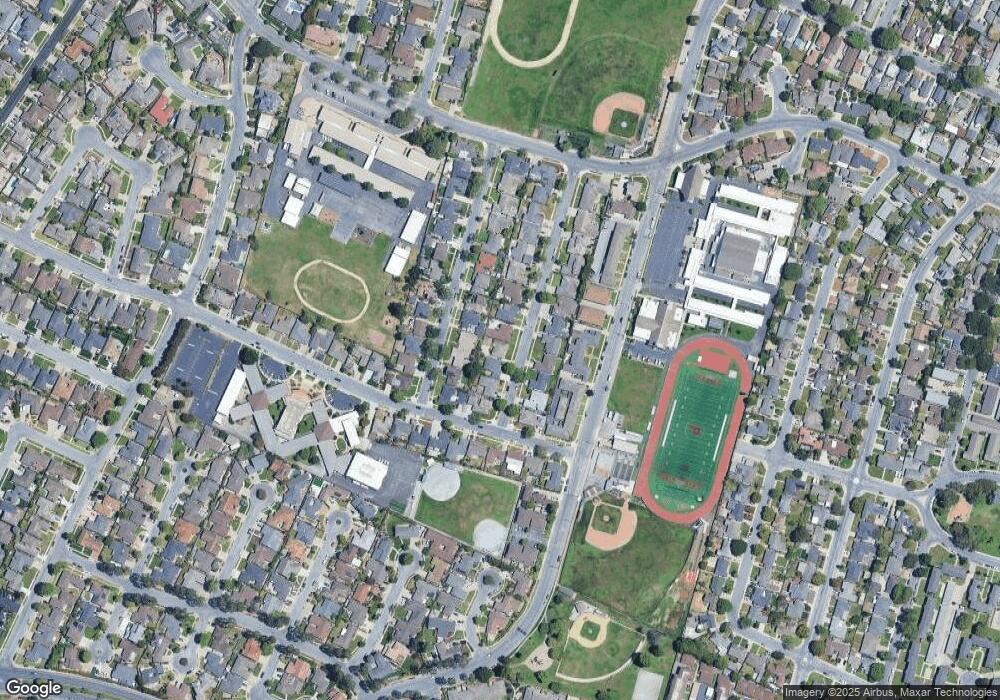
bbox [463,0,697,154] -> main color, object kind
green sports field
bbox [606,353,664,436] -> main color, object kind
green sports field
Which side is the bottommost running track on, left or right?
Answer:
right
